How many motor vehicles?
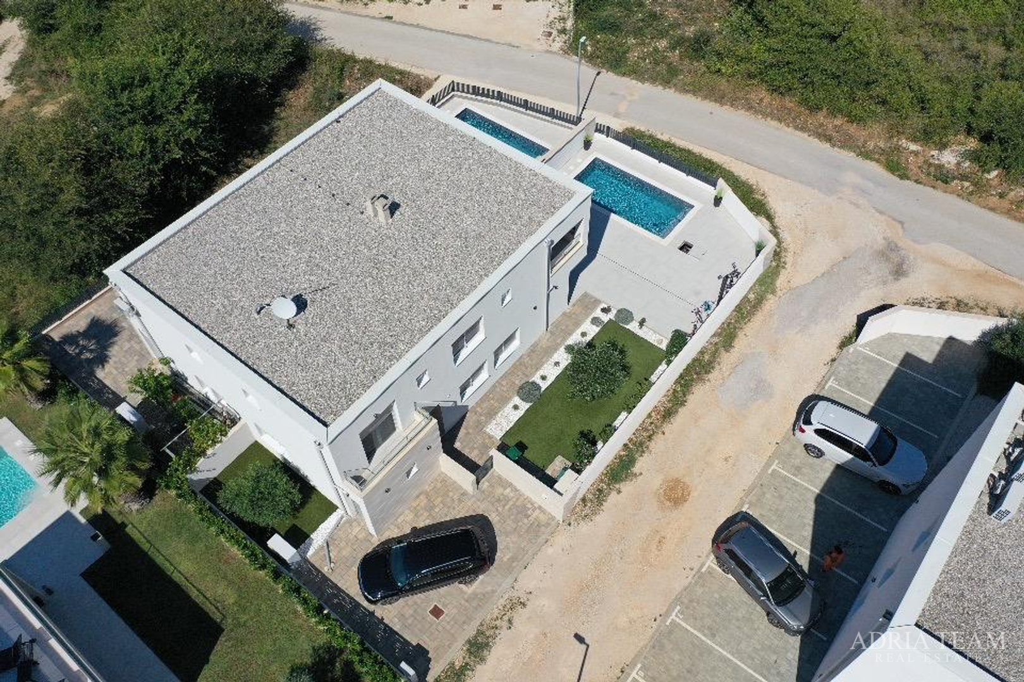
three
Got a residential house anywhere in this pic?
Yes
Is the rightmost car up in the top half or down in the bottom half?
bottom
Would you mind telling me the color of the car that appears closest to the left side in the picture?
black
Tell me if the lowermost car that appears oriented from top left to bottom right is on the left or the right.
right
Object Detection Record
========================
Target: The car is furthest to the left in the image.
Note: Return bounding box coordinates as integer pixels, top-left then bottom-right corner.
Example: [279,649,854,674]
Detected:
[356,522,490,604]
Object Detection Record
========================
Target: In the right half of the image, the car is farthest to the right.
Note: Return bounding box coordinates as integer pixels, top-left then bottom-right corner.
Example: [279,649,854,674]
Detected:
[797,402,927,494]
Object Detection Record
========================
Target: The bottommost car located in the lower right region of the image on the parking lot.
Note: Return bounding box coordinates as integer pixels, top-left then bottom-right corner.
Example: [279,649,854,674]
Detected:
[711,518,829,637]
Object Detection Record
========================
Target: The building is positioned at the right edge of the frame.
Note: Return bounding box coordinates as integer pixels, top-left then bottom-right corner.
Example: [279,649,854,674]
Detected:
[811,381,1024,682]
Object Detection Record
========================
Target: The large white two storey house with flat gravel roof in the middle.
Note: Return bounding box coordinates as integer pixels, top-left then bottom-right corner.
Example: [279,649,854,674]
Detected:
[102,78,596,536]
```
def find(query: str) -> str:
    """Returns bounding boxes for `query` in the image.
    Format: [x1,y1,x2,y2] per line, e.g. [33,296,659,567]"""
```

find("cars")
[797,402,927,494]
[711,518,829,637]
[356,522,490,604]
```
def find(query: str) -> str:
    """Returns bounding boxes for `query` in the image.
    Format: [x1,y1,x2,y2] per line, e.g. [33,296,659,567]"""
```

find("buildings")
[811,381,1024,682]
[0,569,103,682]
[102,78,596,536]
